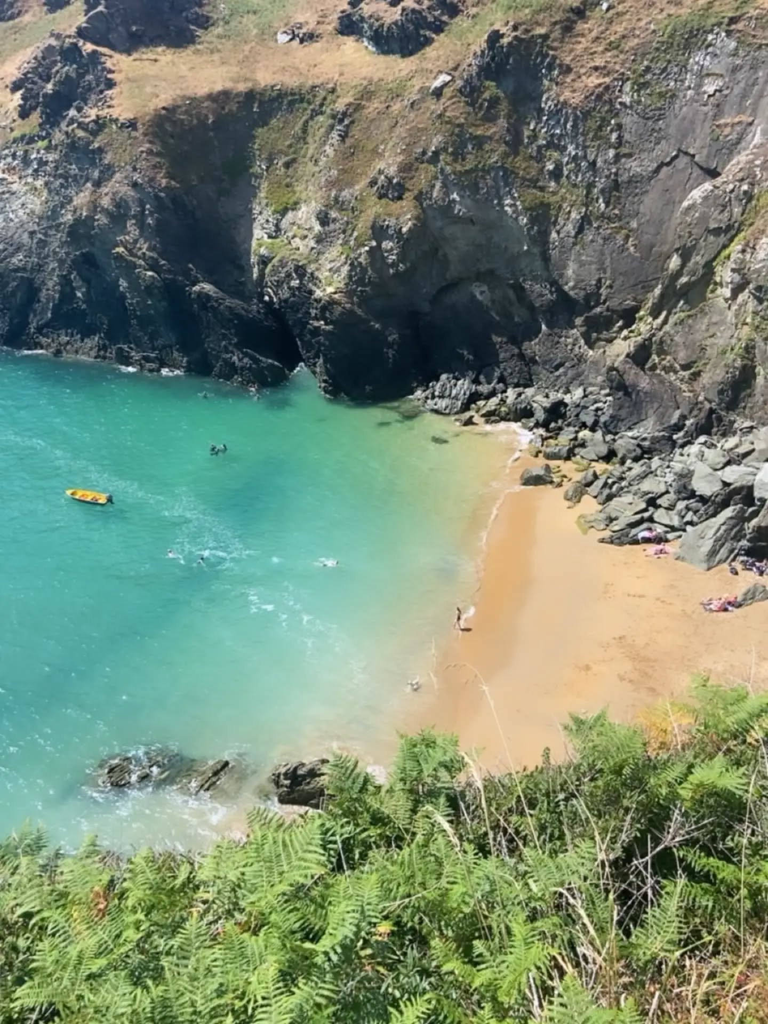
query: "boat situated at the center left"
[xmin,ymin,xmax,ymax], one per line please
[64,492,111,512]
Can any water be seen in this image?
Yes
